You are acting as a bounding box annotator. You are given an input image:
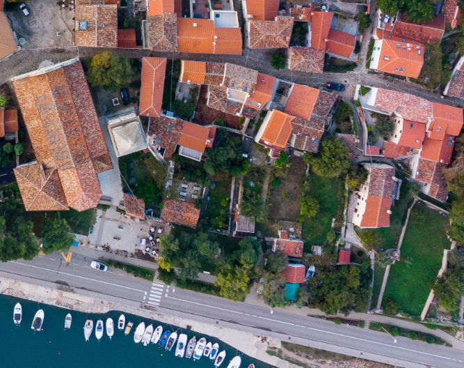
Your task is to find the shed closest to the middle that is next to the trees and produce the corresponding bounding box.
[235,210,256,233]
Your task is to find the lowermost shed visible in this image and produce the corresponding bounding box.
[284,262,306,284]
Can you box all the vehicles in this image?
[91,261,108,272]
[122,89,129,106]
[20,2,30,16]
[328,83,348,90]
